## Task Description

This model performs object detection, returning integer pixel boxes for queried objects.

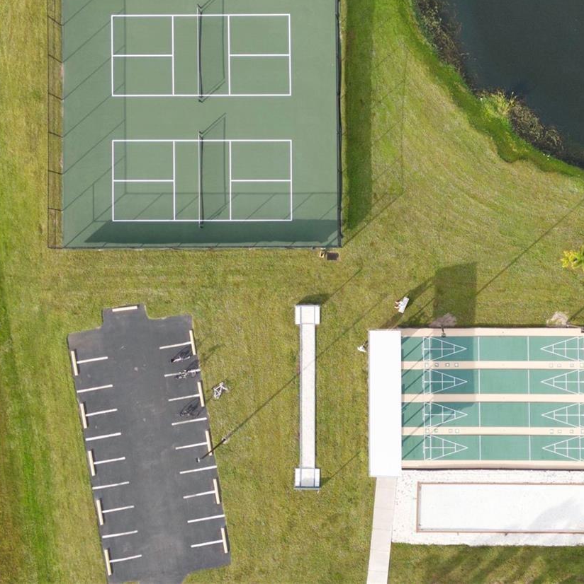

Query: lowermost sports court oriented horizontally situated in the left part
[63,117,343,247]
